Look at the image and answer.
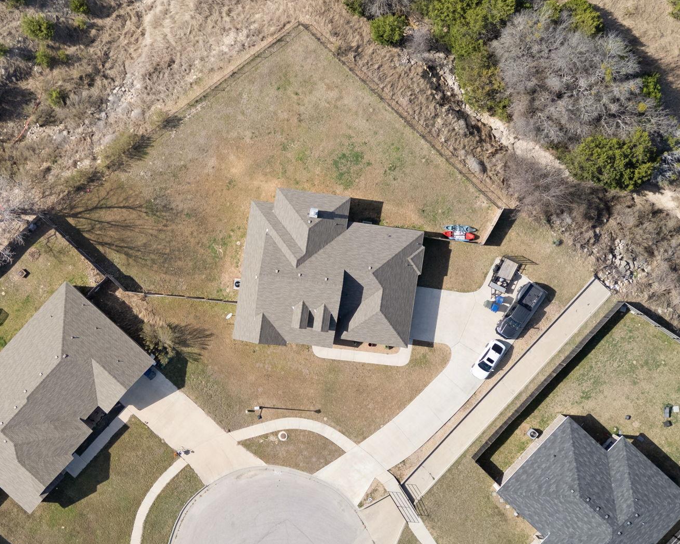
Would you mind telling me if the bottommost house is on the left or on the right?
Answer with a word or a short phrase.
right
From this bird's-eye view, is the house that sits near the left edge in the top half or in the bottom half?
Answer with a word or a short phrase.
bottom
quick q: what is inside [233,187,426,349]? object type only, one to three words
house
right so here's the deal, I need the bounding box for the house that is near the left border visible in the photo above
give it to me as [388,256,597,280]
[0,282,154,514]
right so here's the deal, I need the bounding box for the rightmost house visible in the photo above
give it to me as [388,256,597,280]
[497,416,680,544]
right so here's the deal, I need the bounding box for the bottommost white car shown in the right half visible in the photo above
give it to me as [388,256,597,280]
[470,336,507,380]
